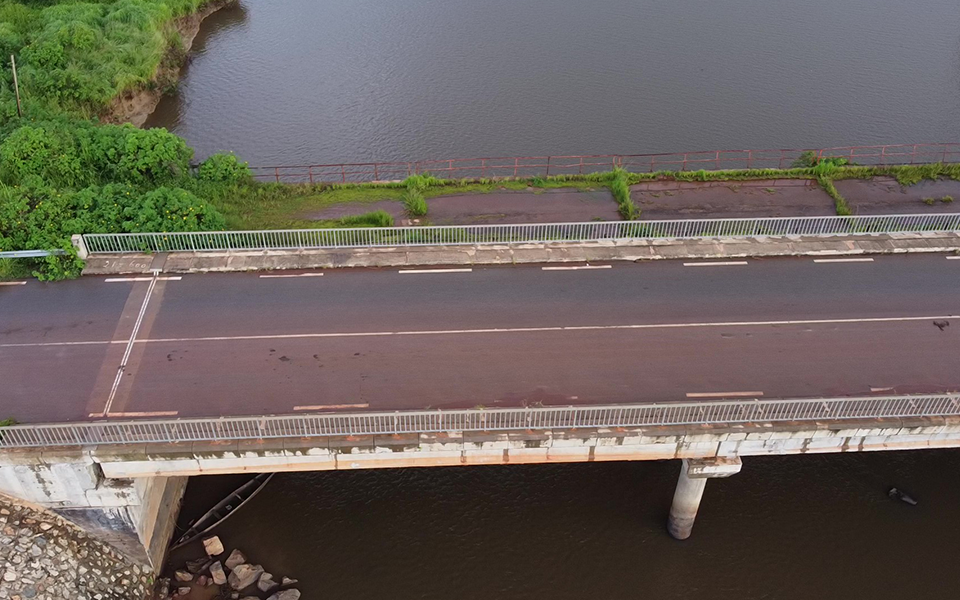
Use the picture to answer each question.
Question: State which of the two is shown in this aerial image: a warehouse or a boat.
boat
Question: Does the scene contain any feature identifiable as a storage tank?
No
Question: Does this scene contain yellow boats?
No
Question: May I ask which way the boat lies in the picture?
diagonally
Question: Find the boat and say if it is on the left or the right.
left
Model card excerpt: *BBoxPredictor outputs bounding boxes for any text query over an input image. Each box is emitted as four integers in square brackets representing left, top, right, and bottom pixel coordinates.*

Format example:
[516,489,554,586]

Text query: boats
[169,471,278,550]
